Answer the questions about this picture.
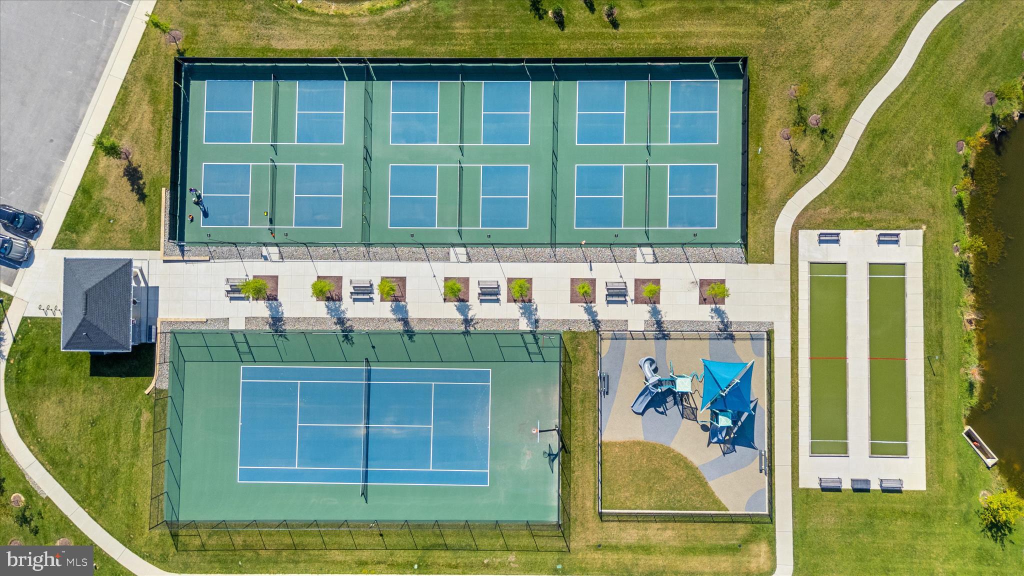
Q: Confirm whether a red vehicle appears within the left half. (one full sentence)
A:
No, looking within the left half, there is no red vehicle.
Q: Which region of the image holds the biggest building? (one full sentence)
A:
The biggest building is located in the left region of the scene.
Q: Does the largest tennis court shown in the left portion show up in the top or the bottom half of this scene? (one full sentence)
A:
The bottom half of the photo is where the largest tennis court shown in the left portion is.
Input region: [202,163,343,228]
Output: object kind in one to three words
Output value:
sports court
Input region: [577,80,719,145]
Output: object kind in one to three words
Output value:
sports court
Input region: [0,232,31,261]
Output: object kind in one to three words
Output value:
car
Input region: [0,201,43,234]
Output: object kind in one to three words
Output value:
car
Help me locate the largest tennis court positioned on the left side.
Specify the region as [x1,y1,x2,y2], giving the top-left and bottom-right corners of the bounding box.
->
[238,366,491,486]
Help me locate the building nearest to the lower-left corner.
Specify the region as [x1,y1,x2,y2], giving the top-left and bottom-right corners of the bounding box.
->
[60,257,146,352]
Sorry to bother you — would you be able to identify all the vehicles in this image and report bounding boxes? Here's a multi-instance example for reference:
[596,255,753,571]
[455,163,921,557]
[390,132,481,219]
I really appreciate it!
[0,232,31,261]
[0,201,43,234]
